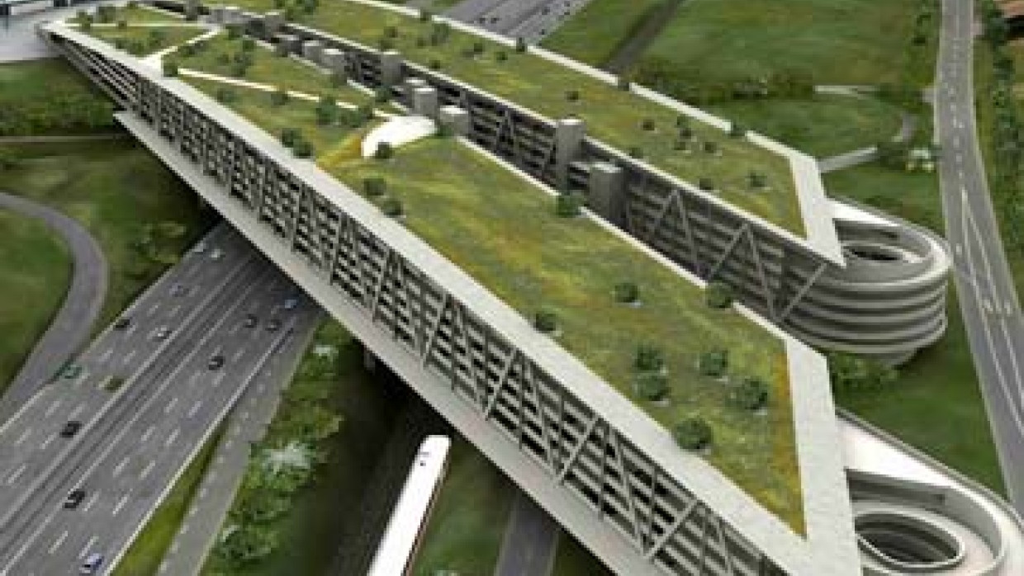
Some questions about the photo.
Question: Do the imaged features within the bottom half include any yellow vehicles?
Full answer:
No, I see no yellow vehicle within the bottom half.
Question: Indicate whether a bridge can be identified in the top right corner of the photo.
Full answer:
No, looking in the top right corner of the photo, there is no bridge.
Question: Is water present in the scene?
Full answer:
No, there's no water in this view.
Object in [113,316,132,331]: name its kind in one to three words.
car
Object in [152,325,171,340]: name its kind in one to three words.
car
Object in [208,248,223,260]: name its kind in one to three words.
vehicle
